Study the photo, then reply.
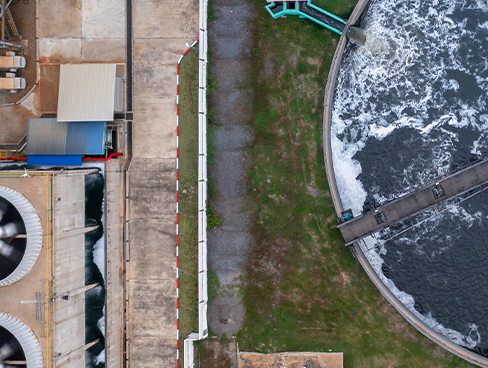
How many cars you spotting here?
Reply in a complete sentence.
There are no cars in the image.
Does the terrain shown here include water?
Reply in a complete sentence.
Yes, water shows up in the scene.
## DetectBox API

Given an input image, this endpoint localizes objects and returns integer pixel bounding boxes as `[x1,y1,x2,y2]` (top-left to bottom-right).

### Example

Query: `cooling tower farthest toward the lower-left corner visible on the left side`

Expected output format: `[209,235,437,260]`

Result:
[0,168,99,368]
